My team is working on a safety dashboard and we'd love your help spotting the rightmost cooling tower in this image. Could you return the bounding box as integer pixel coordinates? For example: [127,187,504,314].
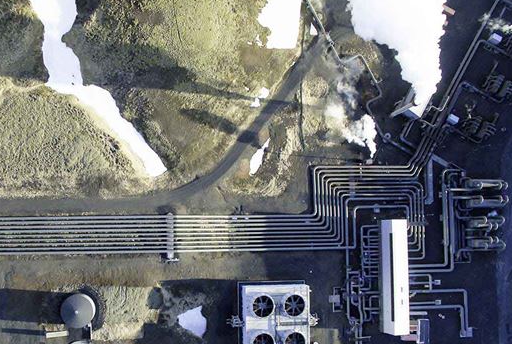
[238,281,312,344]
